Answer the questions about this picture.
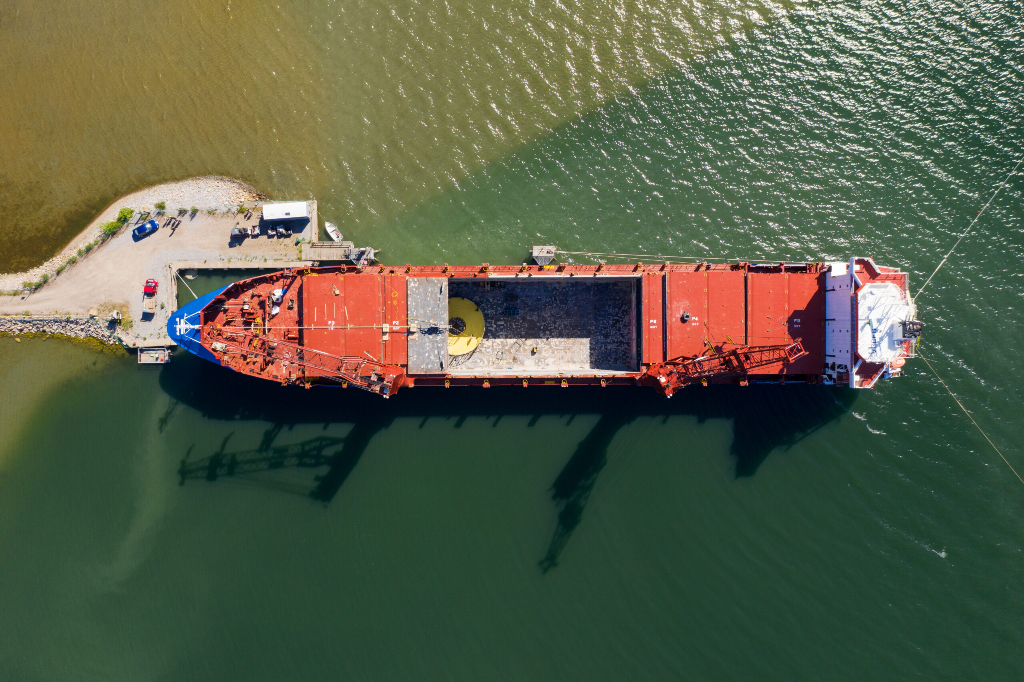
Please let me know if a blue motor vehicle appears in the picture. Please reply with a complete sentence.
Yes, looking at the shot, I can spot a blue motor vehicle.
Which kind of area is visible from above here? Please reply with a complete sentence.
What you see here is a port.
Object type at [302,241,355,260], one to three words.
pier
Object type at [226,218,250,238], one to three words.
work vehicle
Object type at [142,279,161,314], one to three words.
vehicle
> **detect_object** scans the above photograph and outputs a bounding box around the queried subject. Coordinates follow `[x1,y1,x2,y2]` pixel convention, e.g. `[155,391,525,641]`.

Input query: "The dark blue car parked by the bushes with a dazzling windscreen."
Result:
[131,218,162,239]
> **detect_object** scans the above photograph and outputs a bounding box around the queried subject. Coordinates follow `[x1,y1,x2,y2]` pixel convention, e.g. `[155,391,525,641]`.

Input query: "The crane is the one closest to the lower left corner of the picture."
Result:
[209,325,404,399]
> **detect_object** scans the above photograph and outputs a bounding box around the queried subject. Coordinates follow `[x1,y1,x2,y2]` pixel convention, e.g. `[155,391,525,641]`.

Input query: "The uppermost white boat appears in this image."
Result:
[327,222,345,241]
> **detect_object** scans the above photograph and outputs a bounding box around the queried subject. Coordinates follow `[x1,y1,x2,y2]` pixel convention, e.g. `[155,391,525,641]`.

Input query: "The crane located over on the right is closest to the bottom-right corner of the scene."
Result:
[639,334,812,399]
